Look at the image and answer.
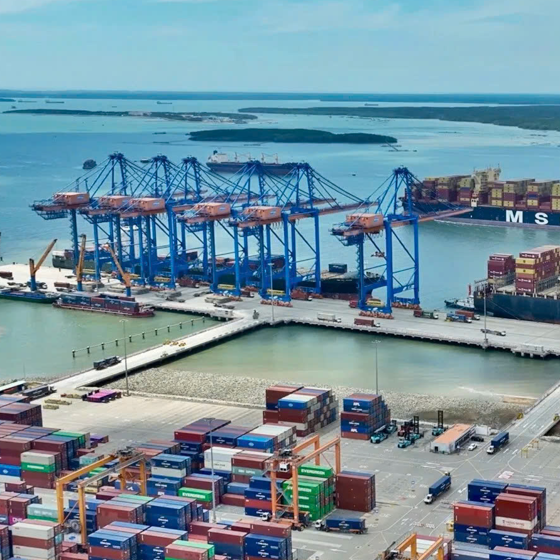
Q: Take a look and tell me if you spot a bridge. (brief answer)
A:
Yes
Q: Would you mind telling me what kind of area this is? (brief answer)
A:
port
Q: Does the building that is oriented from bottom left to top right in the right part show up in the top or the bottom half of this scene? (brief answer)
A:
bottom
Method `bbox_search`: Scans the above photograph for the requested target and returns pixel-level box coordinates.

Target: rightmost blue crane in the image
[334,165,475,318]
